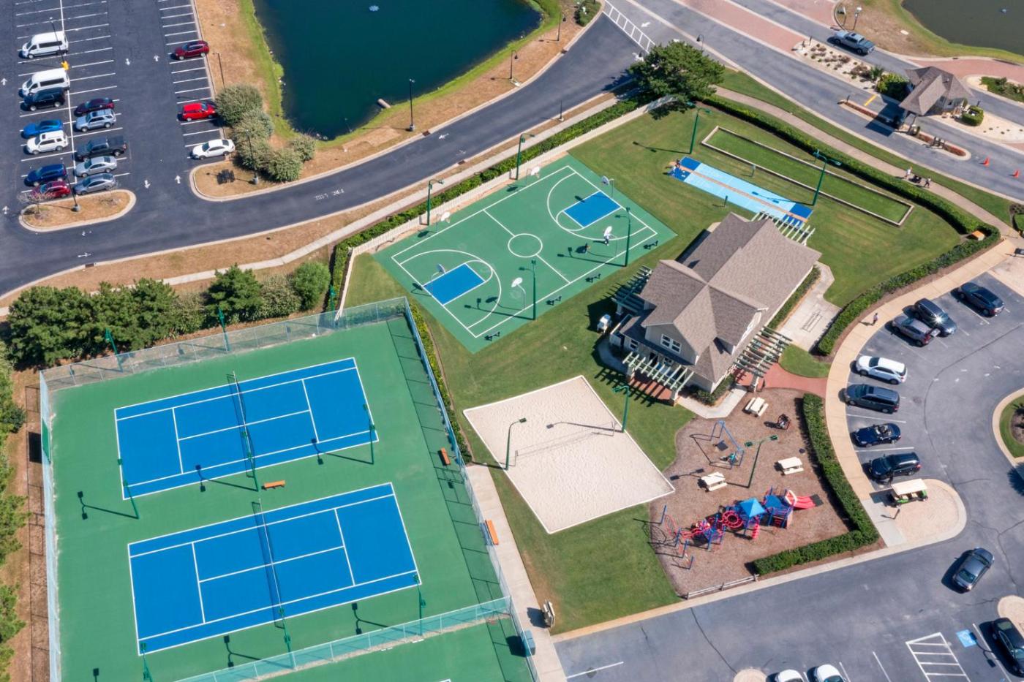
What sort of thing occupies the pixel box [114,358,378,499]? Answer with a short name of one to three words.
tennis court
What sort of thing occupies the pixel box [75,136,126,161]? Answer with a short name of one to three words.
truck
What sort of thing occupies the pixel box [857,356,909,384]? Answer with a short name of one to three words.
car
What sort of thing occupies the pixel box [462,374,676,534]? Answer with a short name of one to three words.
sports court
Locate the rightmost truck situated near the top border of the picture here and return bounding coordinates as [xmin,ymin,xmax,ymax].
[832,30,876,54]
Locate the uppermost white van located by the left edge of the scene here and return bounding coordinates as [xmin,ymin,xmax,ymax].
[22,29,71,58]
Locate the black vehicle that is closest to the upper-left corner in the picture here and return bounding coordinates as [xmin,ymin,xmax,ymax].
[24,88,65,110]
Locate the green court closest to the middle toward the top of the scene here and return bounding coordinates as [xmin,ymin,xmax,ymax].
[373,153,677,353]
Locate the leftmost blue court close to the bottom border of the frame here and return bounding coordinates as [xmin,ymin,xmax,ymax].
[128,483,420,655]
